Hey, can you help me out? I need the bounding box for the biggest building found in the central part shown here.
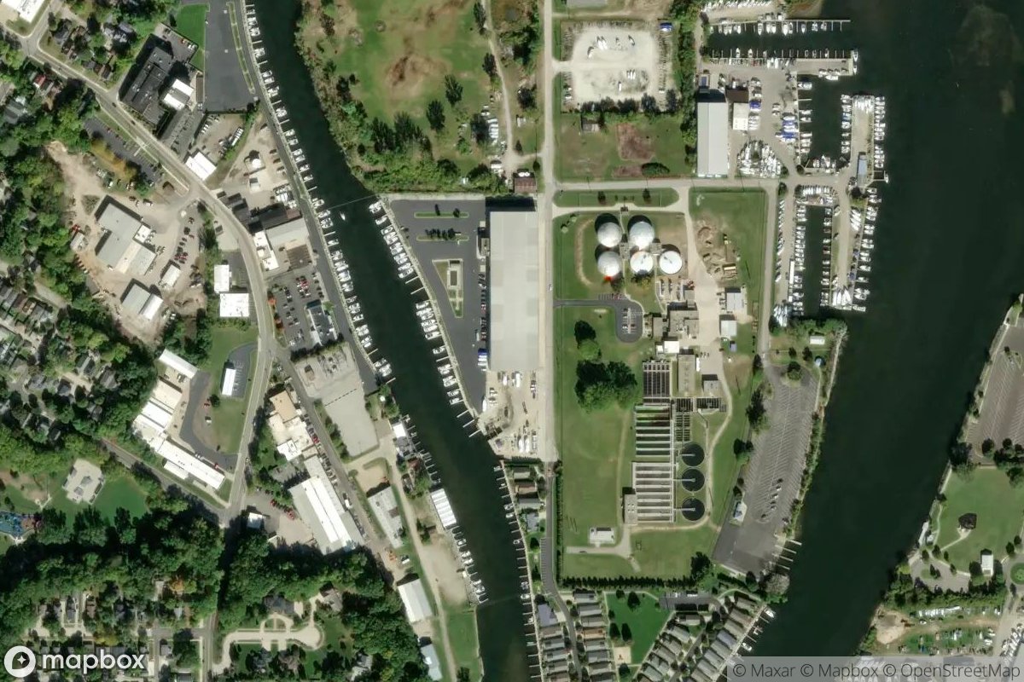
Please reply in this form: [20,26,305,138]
[490,212,538,370]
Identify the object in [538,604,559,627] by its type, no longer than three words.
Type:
house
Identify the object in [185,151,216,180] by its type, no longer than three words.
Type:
building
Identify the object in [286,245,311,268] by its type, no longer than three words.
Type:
building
